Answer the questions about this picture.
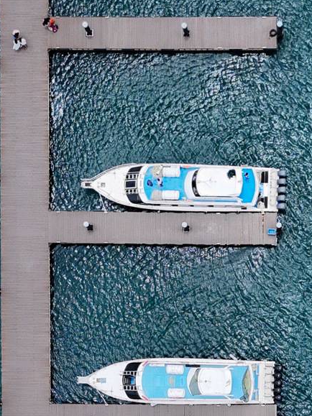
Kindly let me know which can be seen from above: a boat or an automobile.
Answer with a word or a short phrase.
boat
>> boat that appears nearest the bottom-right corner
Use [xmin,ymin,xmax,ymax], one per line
[78,354,282,405]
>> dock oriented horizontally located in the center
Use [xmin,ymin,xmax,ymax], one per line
[51,212,279,249]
